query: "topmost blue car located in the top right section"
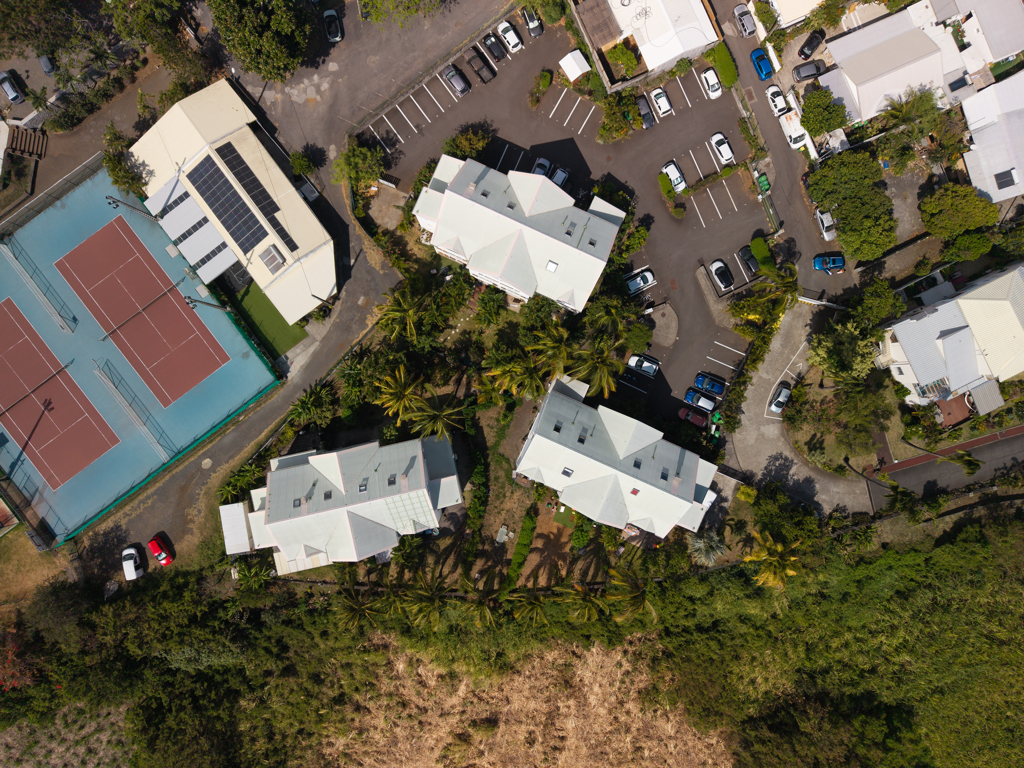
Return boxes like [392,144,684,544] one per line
[749,49,772,82]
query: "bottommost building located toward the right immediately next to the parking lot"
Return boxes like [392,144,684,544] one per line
[516,374,718,539]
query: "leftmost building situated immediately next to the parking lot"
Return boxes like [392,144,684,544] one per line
[130,78,340,325]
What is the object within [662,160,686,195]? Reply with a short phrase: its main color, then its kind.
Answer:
white car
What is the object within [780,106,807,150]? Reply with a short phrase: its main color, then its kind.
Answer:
white vehicle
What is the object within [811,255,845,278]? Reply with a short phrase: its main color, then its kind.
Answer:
blue car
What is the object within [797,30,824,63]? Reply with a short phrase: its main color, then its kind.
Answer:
black car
